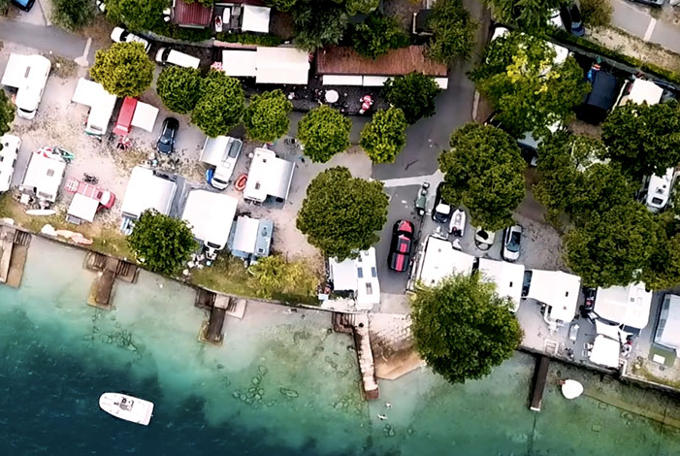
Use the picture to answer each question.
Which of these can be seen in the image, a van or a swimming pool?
van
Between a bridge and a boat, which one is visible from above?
boat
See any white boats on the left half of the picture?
Yes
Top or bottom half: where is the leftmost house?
top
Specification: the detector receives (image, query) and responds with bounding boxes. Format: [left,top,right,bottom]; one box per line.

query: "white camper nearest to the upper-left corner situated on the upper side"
[1,53,53,123]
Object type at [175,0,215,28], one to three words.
house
